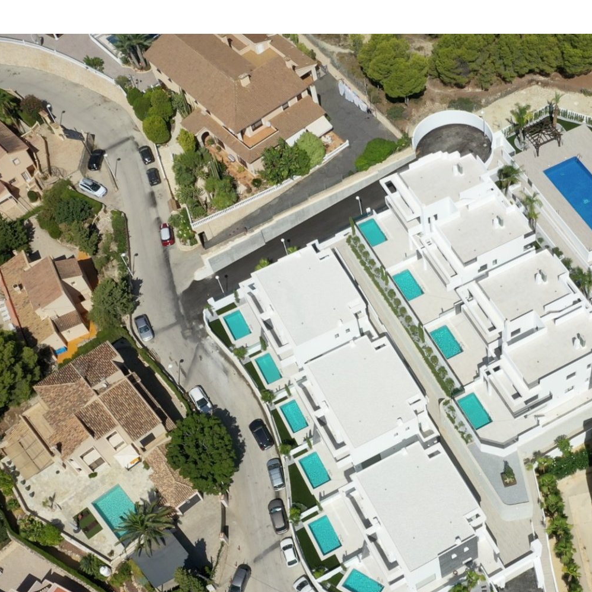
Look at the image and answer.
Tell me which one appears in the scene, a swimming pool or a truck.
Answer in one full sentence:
This aerial view contains a swimming pool.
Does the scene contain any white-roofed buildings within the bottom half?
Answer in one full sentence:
Yes, the scene does show a white-roofed building within the bottom half.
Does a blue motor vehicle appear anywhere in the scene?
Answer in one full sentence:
No, no blue motor vehicle can be seen from above.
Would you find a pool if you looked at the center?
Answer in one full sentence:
Yes, at the center there is a pool.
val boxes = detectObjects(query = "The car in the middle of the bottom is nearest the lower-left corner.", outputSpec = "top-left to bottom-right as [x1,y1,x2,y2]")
[227,563,253,592]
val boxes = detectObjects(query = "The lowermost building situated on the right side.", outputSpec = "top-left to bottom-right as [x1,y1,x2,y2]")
[341,442,485,592]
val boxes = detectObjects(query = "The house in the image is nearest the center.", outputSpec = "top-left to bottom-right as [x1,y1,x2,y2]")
[238,240,369,373]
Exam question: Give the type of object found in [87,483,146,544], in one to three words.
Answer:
swimming pool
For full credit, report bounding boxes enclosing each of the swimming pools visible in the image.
[251,351,285,387]
[392,268,427,303]
[277,397,312,436]
[427,323,466,362]
[296,450,334,492]
[356,216,391,249]
[87,483,146,544]
[542,155,592,231]
[455,389,495,433]
[339,568,387,592]
[220,307,254,343]
[305,512,345,559]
